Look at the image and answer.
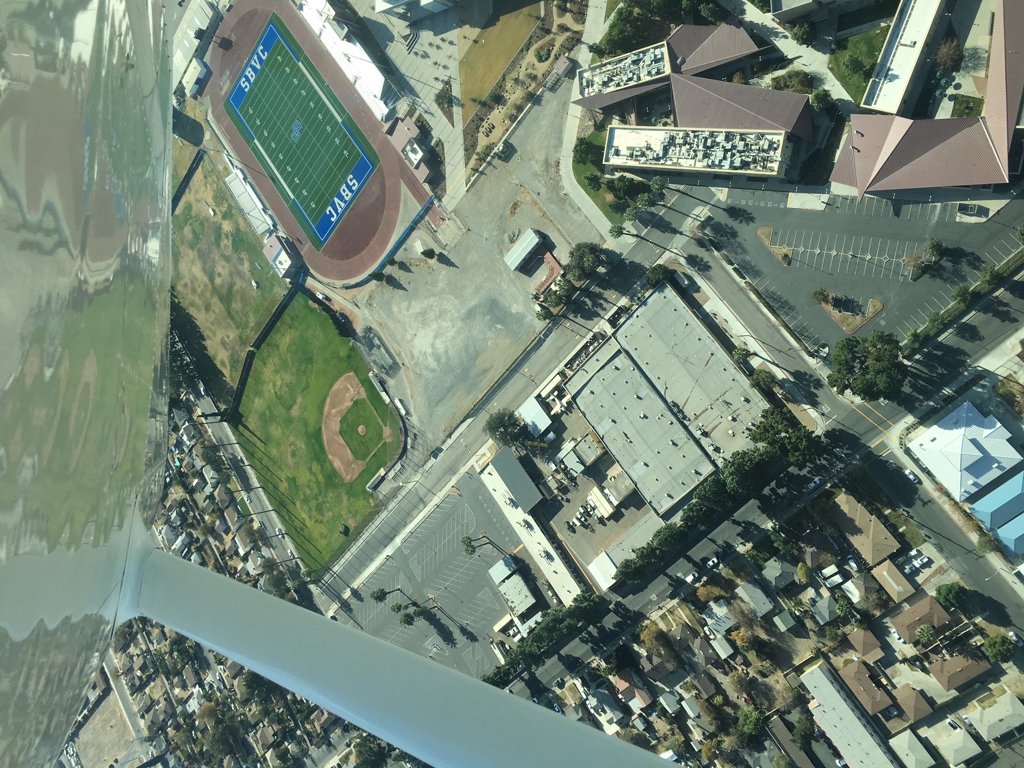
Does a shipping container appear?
Yes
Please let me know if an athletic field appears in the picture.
Yes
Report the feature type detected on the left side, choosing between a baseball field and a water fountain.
baseball field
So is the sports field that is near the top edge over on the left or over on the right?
left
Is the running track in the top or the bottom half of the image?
top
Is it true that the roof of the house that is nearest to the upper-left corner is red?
No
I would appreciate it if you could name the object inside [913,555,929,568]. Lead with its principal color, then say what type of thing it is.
white vehicle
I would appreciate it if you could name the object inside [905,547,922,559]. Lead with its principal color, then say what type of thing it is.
white vehicle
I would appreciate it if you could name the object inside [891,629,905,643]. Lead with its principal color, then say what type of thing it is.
white car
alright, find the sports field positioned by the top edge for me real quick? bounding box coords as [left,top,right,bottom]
[223,12,381,252]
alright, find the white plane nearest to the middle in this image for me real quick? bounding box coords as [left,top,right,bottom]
[546,393,568,414]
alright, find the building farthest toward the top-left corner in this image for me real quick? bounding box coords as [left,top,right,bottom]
[182,57,208,94]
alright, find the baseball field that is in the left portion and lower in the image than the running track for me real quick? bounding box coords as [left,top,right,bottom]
[218,295,402,577]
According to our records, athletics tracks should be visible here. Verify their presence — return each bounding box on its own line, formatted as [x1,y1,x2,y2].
[208,0,448,277]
